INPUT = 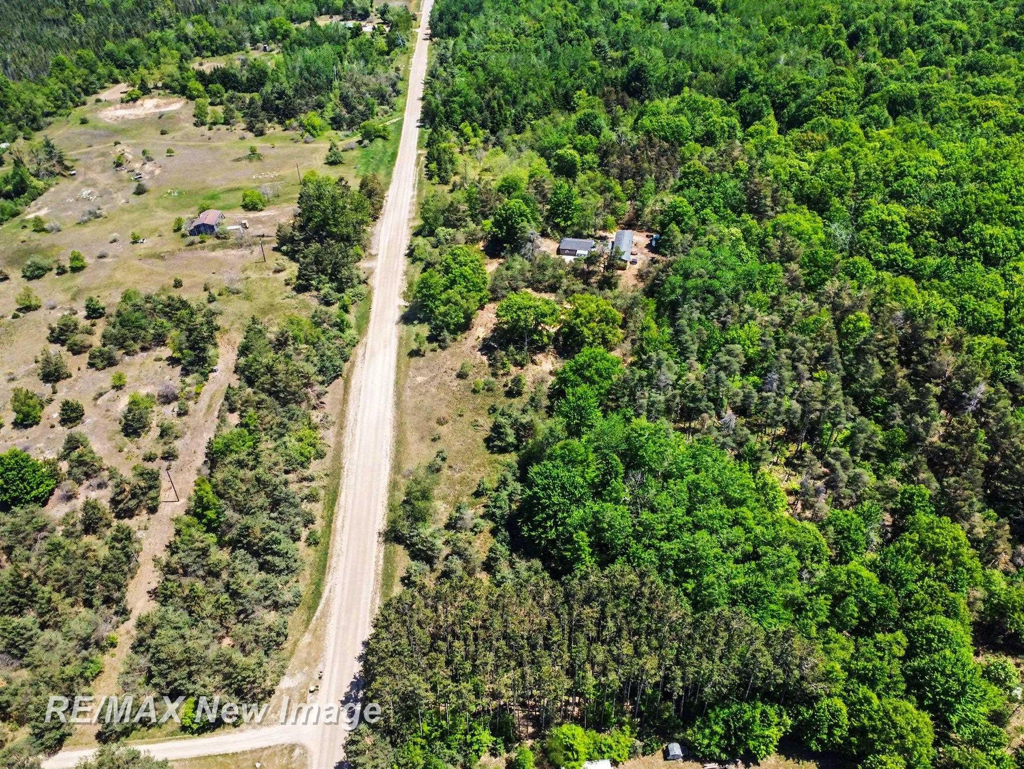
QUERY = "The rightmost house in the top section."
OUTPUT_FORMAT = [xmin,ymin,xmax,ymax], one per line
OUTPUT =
[605,232,634,272]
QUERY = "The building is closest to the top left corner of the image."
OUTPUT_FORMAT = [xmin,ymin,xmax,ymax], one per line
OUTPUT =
[184,211,224,239]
